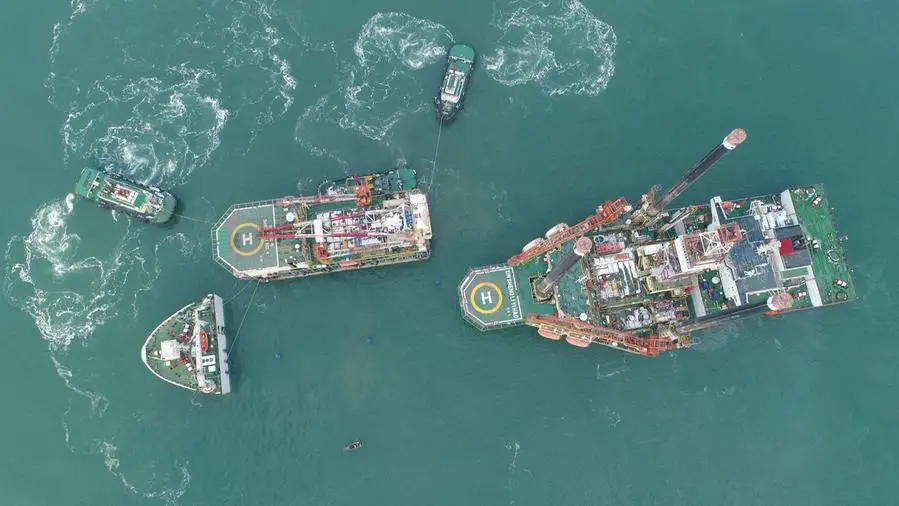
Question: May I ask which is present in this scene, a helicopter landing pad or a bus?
helicopter landing pad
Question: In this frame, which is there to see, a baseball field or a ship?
ship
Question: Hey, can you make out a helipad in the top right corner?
No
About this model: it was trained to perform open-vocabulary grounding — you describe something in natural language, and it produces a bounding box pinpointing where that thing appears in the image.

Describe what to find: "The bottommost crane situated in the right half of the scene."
[524,312,680,361]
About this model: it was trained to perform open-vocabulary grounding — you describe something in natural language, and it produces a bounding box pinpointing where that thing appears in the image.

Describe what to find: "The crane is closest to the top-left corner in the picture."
[278,185,376,209]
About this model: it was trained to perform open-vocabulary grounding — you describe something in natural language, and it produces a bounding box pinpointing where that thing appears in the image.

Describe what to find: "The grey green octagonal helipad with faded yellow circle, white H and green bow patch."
[211,199,279,278]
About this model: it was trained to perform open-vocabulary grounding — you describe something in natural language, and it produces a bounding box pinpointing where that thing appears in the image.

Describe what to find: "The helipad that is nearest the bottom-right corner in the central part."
[457,264,527,331]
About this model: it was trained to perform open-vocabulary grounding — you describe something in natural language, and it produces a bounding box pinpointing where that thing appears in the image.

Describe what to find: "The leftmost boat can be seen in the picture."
[75,164,177,220]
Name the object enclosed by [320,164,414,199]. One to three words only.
boat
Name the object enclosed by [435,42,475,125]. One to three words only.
boat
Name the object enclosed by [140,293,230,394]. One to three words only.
ship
